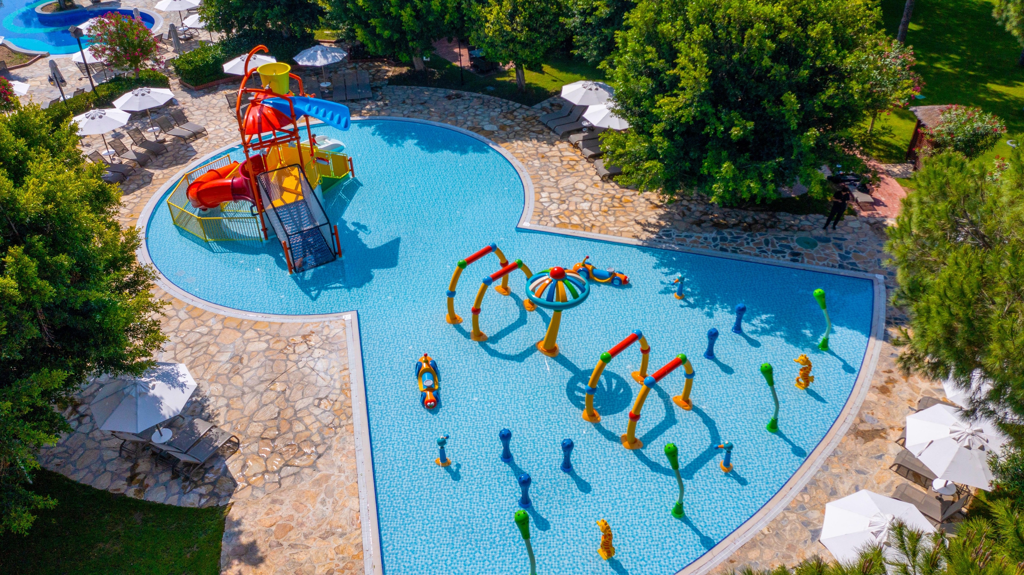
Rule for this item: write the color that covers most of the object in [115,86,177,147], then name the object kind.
white umbrella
